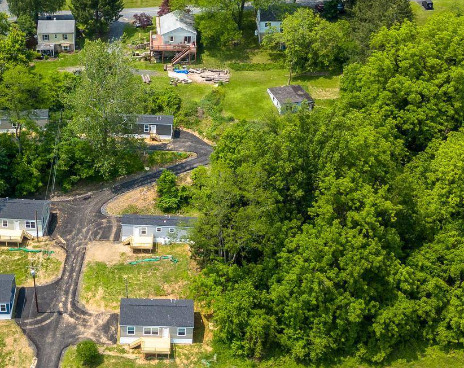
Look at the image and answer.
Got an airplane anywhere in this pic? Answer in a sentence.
No, I find no airplane anywhere in the image.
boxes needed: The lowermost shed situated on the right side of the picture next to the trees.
[266,81,313,114]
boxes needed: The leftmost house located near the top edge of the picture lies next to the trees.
[35,15,75,58]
